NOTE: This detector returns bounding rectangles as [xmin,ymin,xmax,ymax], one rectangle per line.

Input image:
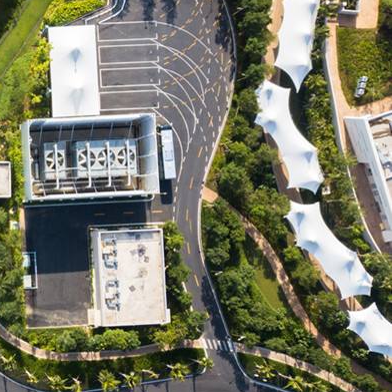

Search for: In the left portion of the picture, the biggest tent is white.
[43,26,100,117]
